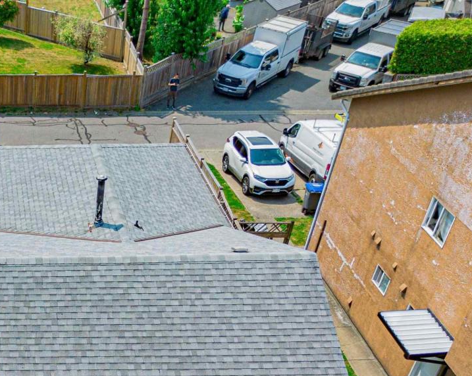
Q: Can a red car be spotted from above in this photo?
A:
No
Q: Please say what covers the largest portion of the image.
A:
buildings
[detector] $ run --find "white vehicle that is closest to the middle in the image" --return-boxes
[220,126,305,197]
